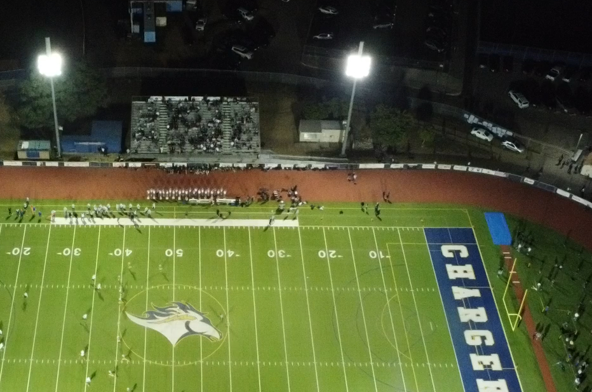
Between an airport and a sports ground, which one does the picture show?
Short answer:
sports ground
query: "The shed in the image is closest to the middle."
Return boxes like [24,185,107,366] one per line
[299,118,345,143]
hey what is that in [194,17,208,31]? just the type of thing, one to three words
car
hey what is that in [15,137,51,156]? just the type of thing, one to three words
shed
